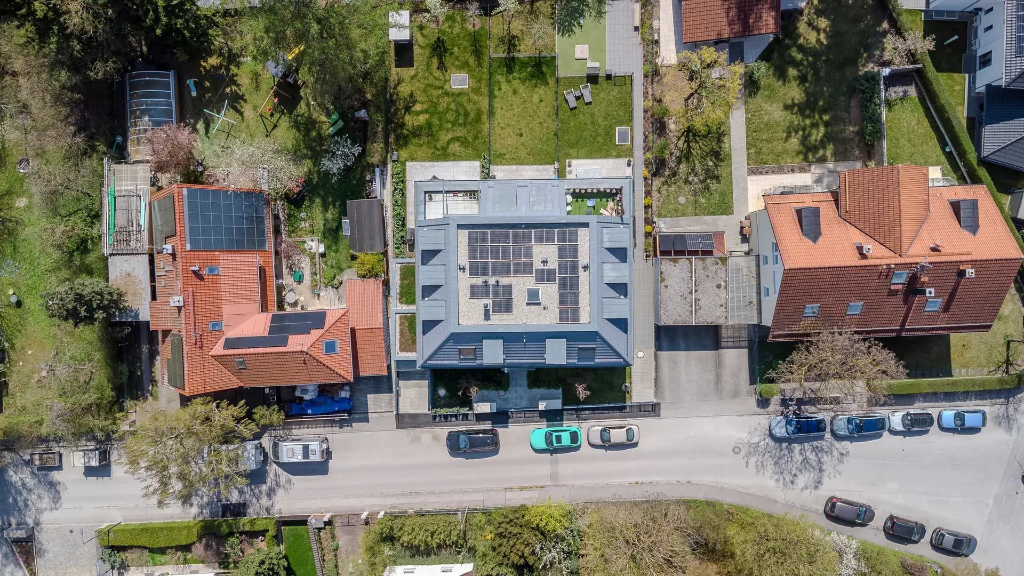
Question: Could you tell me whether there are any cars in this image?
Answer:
Yes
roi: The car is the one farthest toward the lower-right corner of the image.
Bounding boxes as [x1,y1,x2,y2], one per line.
[927,525,977,557]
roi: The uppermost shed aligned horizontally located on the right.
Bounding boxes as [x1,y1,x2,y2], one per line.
[680,0,781,49]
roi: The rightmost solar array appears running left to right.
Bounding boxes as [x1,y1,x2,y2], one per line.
[660,233,714,249]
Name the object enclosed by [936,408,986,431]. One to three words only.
car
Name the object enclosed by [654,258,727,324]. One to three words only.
building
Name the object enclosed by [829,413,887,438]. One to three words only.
car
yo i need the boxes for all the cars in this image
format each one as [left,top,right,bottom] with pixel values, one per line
[530,425,582,451]
[936,408,986,431]
[829,413,887,438]
[821,493,874,525]
[587,423,639,447]
[880,512,926,544]
[446,427,499,454]
[927,525,977,557]
[886,409,934,433]
[768,414,826,440]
